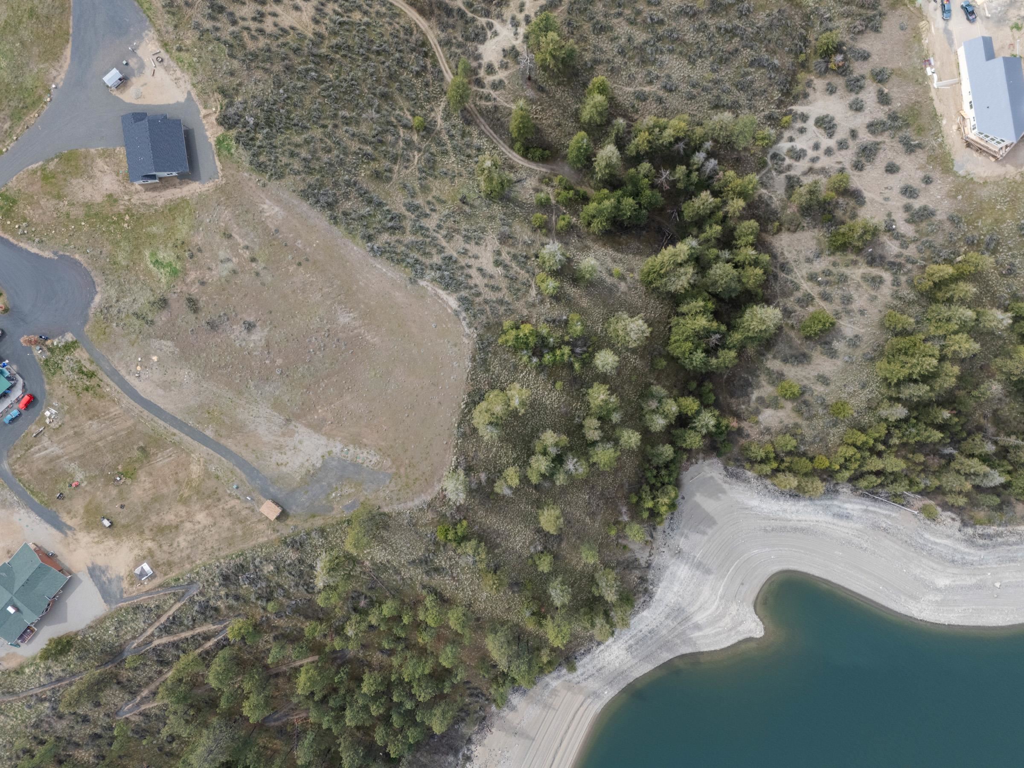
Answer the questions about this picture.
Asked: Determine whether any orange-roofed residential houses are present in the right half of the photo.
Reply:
No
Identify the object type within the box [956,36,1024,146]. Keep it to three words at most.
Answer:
house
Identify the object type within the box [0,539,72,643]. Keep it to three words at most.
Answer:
building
